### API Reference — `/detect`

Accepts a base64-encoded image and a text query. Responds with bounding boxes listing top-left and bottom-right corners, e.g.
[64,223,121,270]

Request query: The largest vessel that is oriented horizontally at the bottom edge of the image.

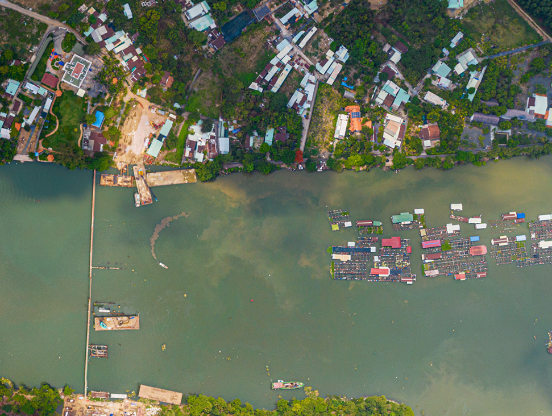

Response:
[139,385,182,404]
